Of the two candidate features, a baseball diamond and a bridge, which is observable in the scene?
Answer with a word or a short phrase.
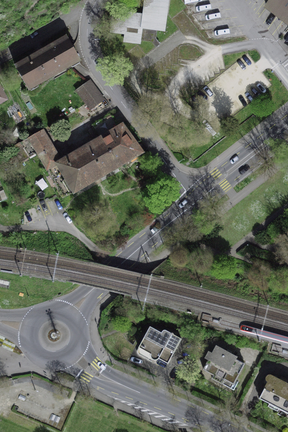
bridge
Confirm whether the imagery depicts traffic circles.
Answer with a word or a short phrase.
Yes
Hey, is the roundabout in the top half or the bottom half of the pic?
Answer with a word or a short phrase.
bottom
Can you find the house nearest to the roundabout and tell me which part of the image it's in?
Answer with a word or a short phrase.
bottom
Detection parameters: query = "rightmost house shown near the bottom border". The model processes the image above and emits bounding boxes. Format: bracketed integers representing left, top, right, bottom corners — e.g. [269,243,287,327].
[260,374,288,419]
